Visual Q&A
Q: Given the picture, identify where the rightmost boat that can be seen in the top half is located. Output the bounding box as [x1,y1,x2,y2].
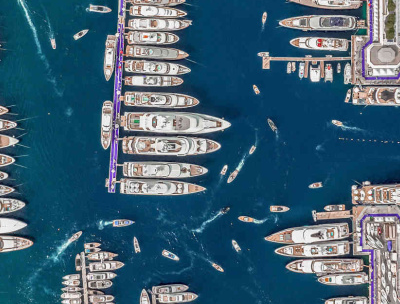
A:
[350,84,400,104]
